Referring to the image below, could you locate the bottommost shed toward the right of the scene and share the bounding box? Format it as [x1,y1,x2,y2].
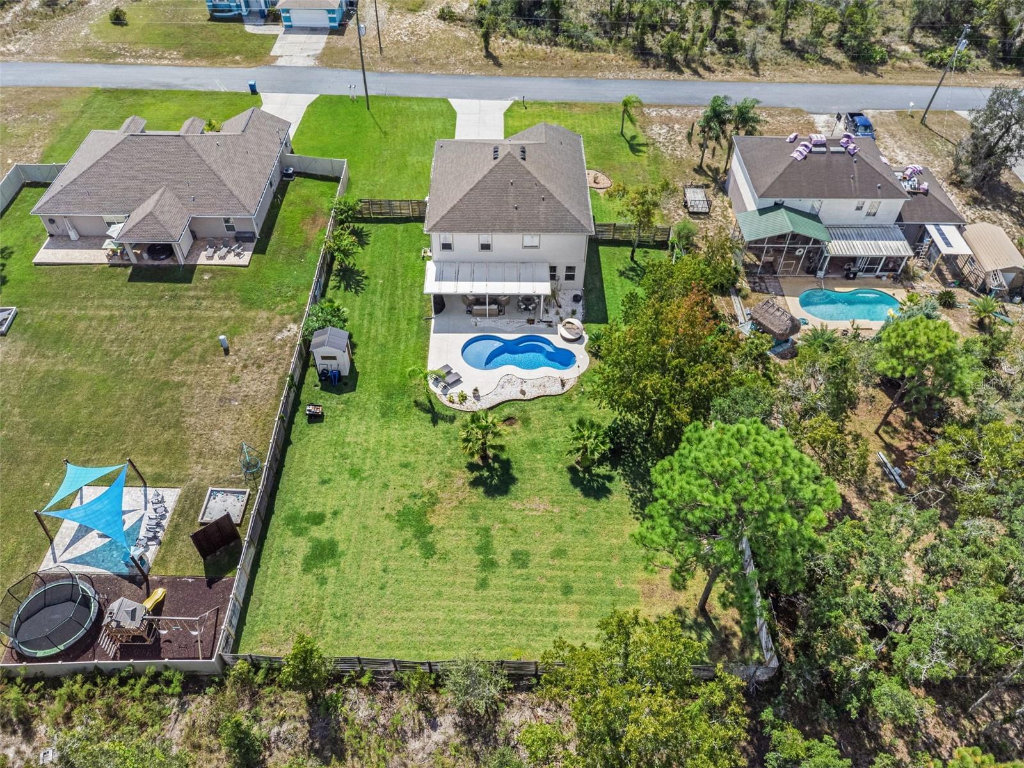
[744,306,804,368]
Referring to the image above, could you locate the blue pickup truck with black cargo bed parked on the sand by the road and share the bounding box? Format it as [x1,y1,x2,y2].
[850,107,884,142]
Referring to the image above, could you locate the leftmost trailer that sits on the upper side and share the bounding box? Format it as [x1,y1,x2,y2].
[682,171,717,207]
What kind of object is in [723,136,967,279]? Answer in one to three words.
house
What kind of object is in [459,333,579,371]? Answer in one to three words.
swimming pool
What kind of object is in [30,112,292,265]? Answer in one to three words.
house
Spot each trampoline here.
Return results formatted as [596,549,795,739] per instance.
[0,559,106,658]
